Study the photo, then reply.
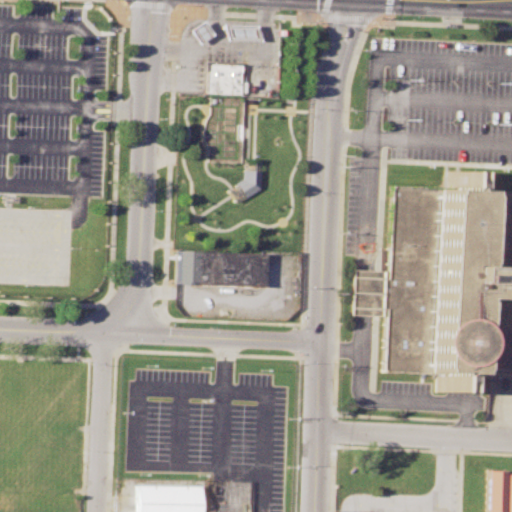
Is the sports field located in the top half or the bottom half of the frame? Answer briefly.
bottom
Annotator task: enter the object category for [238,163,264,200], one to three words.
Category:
building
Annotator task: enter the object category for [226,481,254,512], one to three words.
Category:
shed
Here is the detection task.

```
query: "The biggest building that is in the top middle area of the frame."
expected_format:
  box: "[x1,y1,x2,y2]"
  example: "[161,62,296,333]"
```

[208,64,249,97]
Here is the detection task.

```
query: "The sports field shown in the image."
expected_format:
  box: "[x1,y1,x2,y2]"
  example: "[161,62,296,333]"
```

[0,360,86,512]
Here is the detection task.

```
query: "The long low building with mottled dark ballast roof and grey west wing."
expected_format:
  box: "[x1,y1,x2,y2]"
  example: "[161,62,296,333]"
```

[164,251,274,288]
